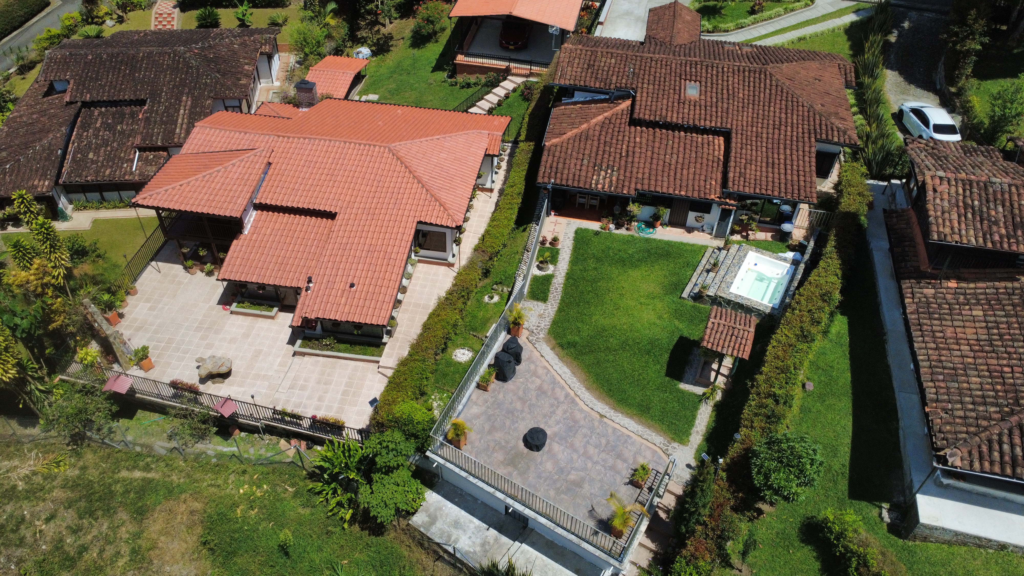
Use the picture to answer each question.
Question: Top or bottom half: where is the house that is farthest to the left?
top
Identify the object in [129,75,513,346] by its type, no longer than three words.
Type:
house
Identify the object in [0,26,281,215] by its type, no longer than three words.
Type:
house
